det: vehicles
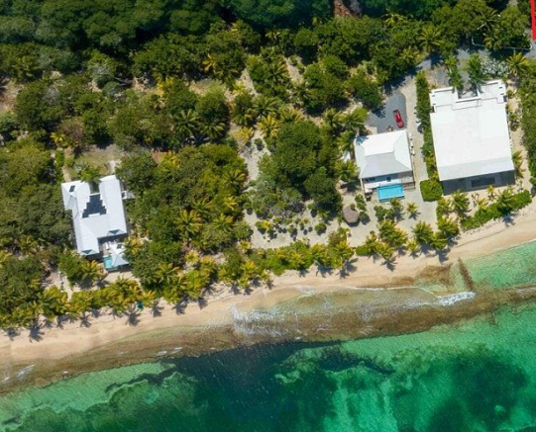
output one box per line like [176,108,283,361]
[415,120,421,129]
[394,110,404,128]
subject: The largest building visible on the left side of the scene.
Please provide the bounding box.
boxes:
[62,176,133,255]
